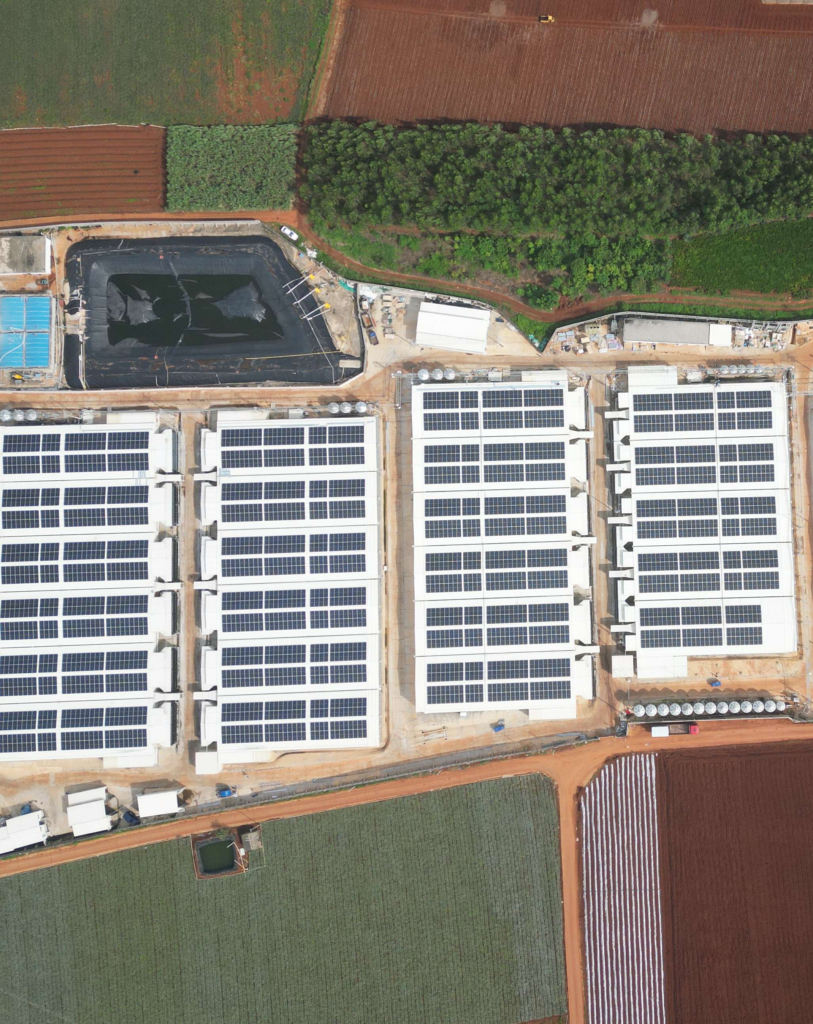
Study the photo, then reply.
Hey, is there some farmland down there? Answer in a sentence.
Yes, there's farmland in this view.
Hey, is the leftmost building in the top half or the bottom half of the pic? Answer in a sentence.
The leftmost building sits in the top half of the picture.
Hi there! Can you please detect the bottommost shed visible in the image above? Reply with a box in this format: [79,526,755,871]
[241,828,262,851]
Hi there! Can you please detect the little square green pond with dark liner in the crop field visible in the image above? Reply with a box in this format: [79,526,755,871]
[194,833,242,876]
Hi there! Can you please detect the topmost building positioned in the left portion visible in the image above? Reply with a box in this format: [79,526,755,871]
[0,236,51,277]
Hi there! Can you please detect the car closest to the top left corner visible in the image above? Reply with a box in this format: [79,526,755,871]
[280,225,298,240]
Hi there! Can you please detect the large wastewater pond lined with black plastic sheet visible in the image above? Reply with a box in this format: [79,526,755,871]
[63,234,362,390]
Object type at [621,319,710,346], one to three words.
building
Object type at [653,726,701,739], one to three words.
vehicle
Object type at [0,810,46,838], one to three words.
truck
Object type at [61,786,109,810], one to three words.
truck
